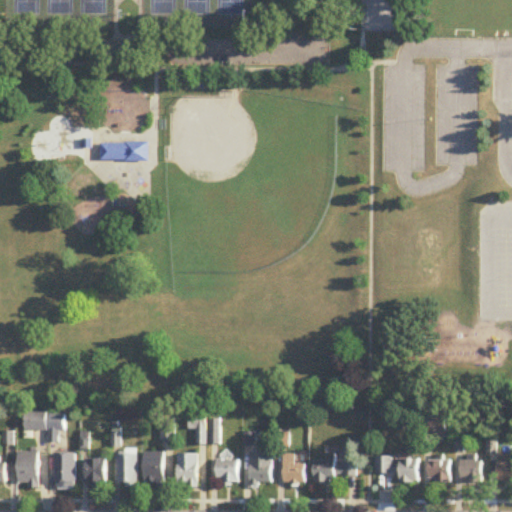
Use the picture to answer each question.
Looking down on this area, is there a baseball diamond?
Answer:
Yes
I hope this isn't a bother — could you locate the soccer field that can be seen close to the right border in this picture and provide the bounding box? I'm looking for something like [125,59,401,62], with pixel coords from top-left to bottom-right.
[434,0,512,36]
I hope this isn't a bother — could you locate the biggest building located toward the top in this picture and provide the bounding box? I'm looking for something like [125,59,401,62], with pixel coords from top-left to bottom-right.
[101,142,148,161]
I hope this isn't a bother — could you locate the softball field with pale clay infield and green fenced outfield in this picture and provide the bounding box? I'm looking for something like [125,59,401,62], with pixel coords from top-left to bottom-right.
[164,88,338,292]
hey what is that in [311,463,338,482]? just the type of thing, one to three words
house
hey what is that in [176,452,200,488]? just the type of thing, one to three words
house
